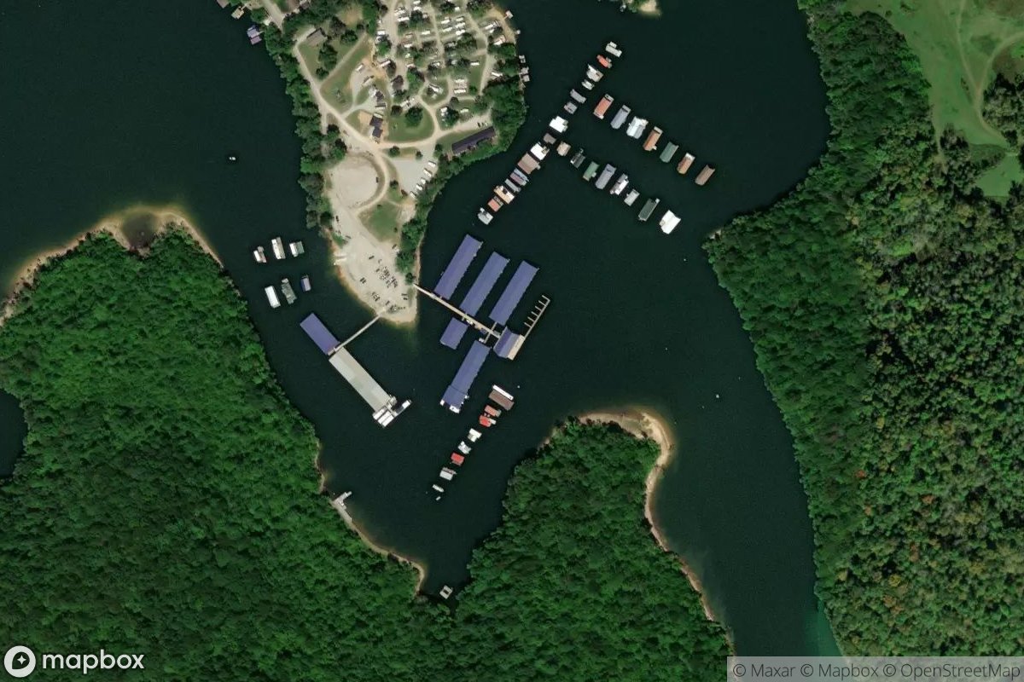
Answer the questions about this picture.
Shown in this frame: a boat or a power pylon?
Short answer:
boat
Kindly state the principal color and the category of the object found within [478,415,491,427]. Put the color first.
red boat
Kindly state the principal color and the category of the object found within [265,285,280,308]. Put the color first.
white boat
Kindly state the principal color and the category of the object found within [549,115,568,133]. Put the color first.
white boat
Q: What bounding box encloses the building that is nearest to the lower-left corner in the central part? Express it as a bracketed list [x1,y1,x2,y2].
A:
[493,327,525,361]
